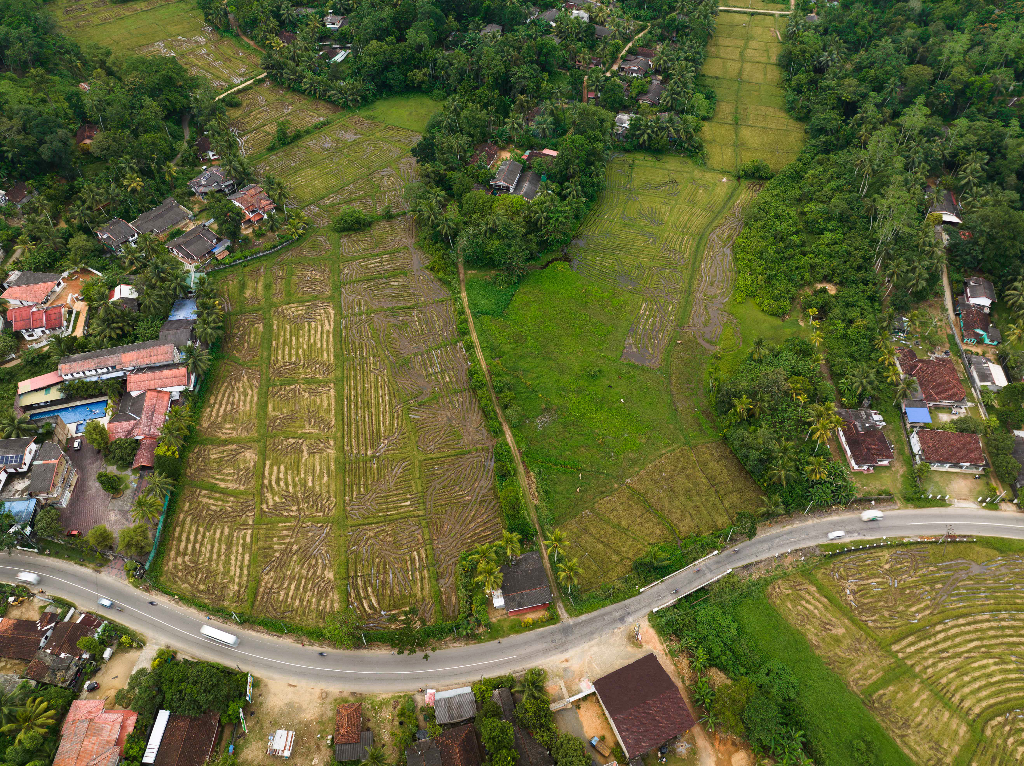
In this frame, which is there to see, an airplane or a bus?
bus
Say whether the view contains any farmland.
Yes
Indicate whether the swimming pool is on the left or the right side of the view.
left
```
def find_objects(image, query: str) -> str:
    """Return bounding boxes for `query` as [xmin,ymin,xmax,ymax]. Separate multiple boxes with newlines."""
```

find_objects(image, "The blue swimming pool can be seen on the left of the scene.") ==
[25,397,112,438]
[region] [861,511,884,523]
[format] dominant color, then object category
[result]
white vehicle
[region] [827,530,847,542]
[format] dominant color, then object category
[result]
white vehicle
